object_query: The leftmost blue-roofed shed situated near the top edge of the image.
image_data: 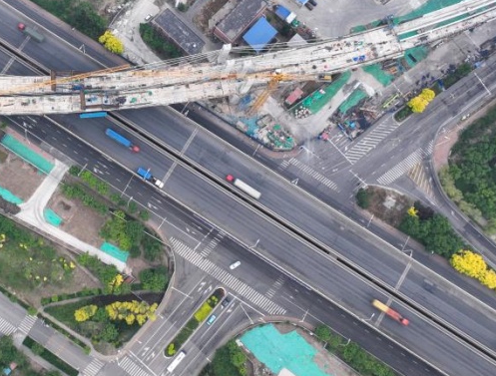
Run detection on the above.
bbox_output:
[242,17,278,55]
